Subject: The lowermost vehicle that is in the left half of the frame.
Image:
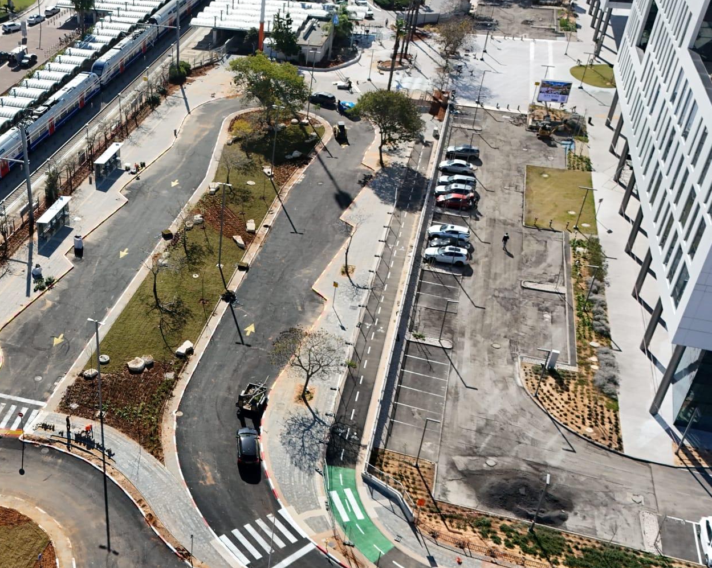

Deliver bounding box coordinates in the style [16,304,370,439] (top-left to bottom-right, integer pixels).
[234,430,263,473]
